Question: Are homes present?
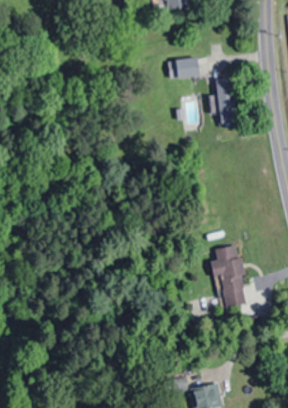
Yes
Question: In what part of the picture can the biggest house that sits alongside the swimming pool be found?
top right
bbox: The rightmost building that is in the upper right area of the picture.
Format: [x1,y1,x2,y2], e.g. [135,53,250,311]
[210,74,236,126]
